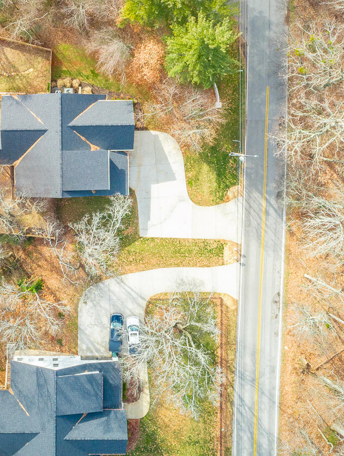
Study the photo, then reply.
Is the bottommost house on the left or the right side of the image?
left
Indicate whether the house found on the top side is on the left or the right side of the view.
left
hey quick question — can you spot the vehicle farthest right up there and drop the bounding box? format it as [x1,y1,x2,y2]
[125,317,141,357]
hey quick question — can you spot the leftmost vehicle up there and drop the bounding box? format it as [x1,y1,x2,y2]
[109,314,125,353]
